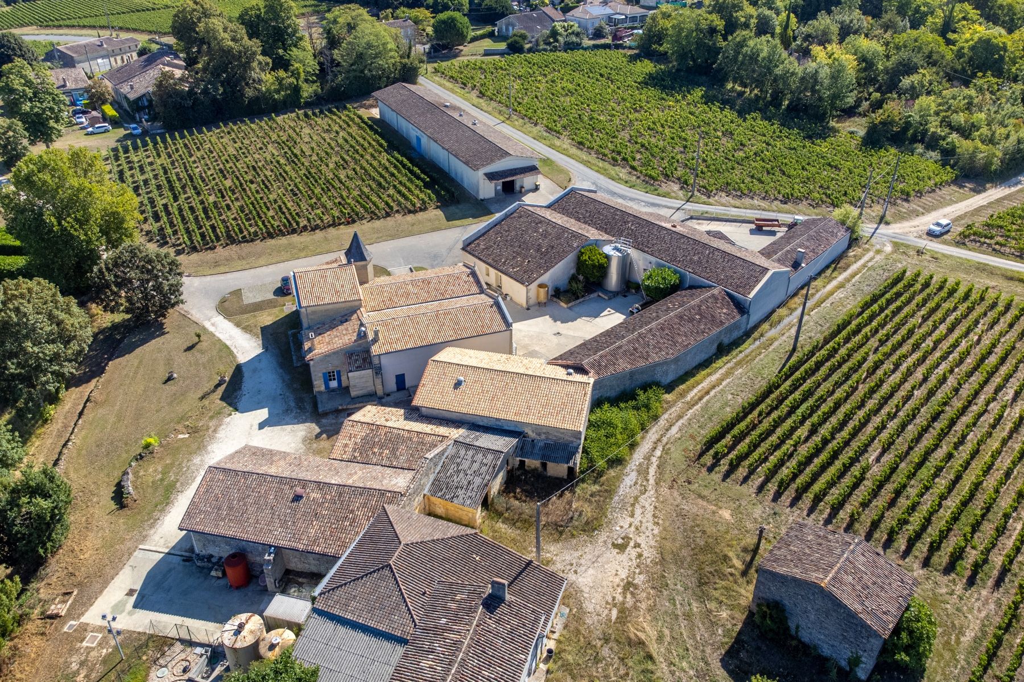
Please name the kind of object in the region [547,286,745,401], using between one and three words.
shed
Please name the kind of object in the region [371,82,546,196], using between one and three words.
building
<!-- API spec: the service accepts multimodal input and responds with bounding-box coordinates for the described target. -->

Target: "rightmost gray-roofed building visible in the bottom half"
[751,521,918,679]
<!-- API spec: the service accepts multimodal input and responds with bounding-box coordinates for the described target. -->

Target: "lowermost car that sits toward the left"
[278,273,293,292]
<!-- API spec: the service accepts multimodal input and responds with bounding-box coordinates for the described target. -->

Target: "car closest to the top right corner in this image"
[927,218,954,235]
